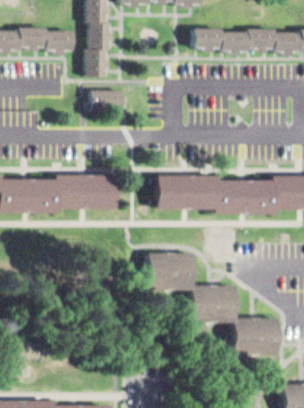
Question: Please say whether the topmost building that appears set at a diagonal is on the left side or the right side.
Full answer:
You can find the topmost building that appears set at a diagonal on the right side of the picture.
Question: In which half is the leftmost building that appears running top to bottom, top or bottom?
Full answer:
Seen from above, the leftmost building that appears running top to bottom lies in the top half of the view.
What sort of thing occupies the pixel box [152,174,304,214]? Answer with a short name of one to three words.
building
